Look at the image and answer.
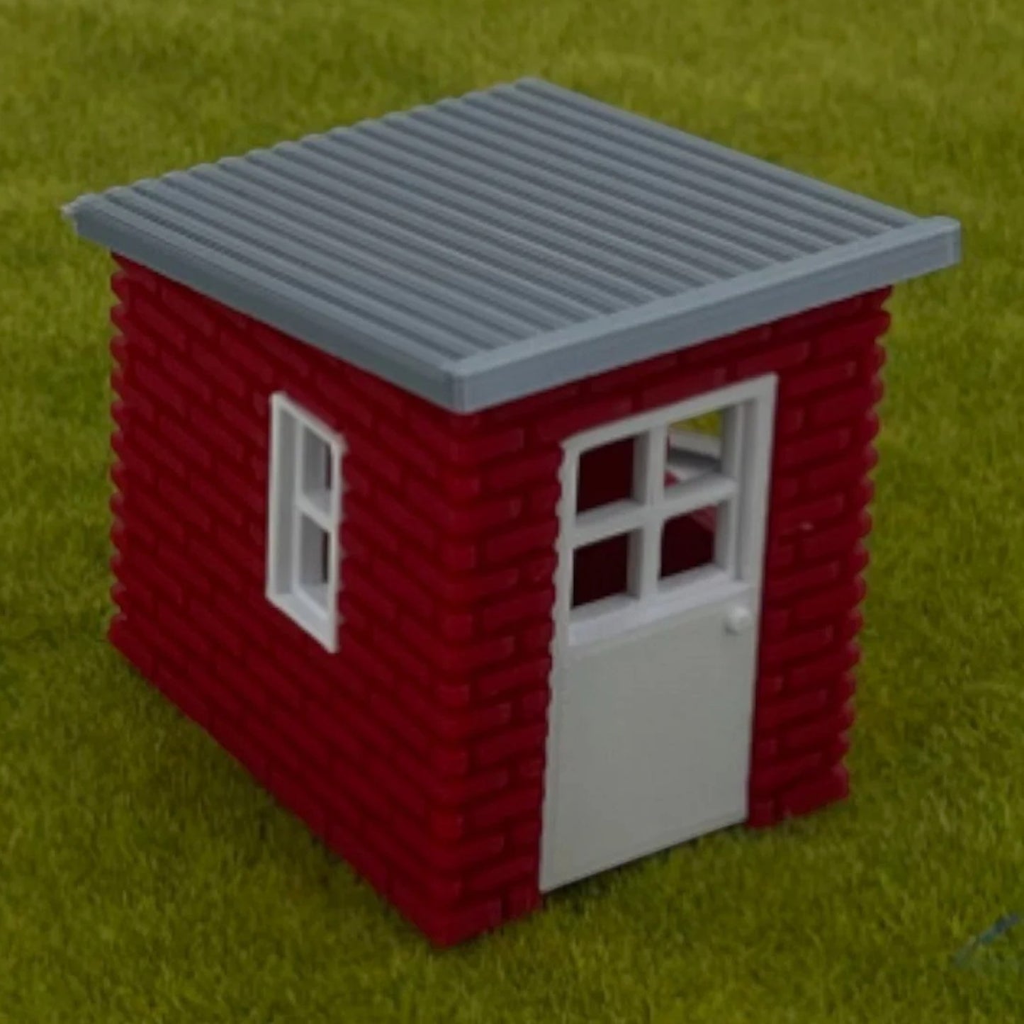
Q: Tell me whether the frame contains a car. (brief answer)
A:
No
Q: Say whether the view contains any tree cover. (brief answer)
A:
No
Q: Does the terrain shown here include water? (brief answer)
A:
No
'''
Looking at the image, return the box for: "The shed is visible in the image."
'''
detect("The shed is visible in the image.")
[68,77,959,952]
